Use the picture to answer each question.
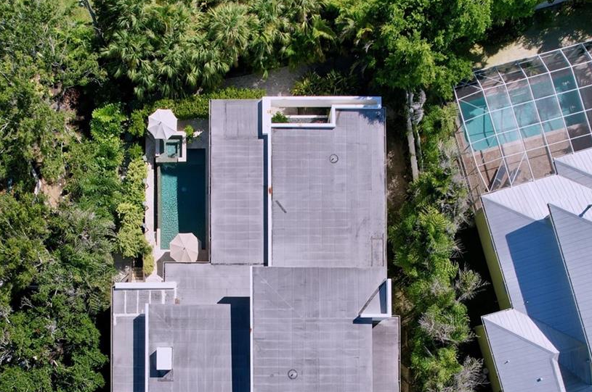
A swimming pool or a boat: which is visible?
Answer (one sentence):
There is a swimming pool in the scene.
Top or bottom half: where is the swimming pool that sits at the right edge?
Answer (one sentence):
The swimming pool that sits at the right edge sits in the top half of the picture.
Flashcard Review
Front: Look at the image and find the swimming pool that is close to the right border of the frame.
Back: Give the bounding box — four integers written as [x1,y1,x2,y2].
[457,65,590,156]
